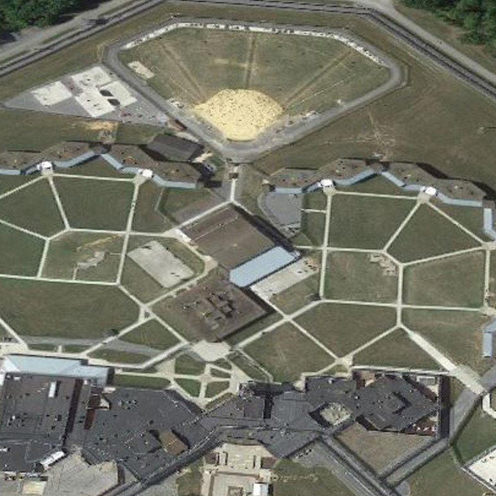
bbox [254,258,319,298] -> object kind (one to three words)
basketball court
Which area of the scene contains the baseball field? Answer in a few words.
top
